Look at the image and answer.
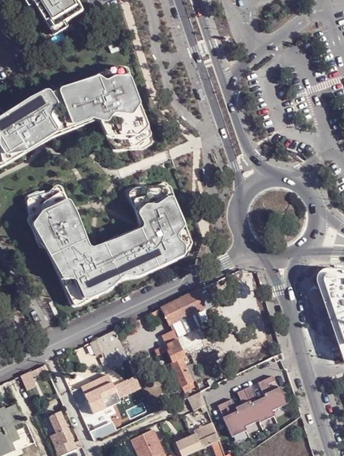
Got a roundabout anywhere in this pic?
Yes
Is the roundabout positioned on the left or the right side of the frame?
right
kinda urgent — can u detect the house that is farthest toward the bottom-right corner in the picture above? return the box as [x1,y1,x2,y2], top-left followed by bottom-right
[218,376,288,442]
